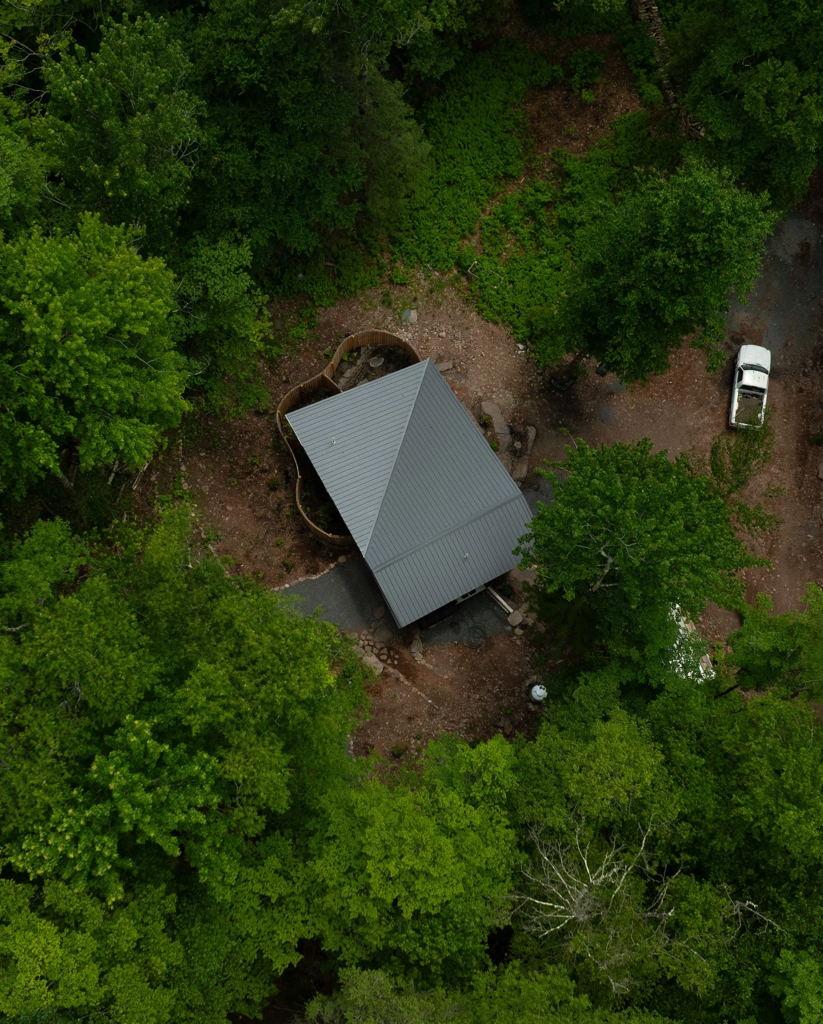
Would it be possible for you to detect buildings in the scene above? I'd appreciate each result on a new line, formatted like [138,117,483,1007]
[287,357,548,629]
